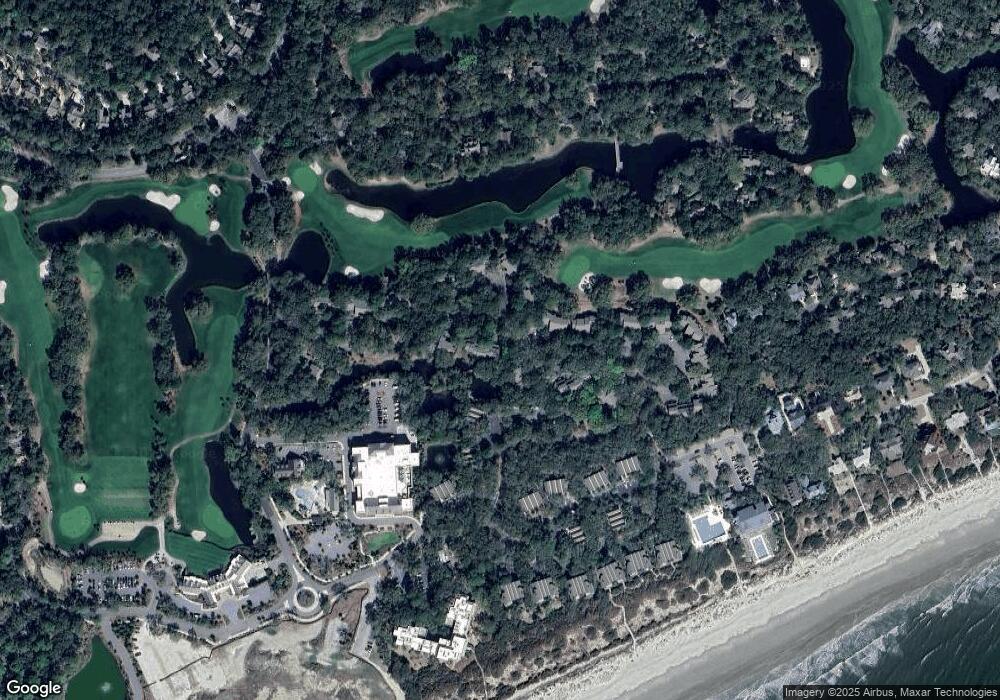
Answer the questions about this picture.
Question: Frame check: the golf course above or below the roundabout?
above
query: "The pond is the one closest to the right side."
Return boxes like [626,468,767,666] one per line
[895,39,1000,228]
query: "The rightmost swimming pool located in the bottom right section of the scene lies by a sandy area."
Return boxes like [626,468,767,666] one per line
[747,525,777,565]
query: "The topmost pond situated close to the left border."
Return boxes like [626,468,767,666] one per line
[38,196,259,366]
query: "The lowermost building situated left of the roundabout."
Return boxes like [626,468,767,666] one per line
[176,555,268,619]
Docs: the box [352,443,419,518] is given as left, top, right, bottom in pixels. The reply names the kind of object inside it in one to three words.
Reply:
building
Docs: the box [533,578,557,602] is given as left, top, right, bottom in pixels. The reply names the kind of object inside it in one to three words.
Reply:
house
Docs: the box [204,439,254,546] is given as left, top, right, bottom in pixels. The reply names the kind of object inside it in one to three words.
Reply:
pond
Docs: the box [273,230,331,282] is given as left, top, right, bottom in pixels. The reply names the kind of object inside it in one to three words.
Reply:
pond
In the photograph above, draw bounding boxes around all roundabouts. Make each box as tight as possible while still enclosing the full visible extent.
[284,565,328,619]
